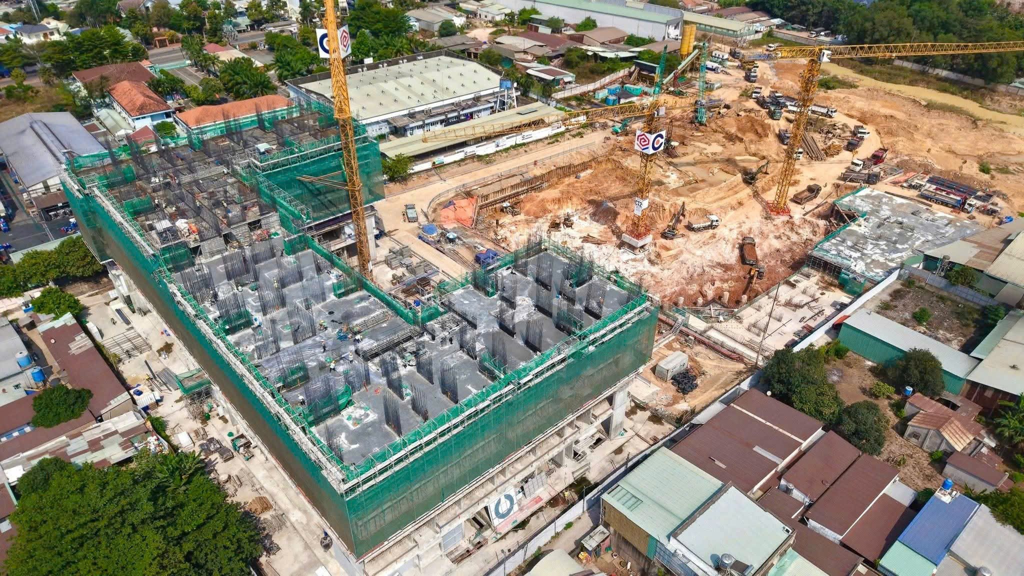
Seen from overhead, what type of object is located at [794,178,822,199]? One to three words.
truck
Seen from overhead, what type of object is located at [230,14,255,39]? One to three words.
building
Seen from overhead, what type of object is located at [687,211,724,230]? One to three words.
vehicle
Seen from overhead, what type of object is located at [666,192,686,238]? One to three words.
work vehicle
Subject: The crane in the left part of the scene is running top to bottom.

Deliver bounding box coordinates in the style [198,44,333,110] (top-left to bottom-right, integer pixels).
[303,0,377,277]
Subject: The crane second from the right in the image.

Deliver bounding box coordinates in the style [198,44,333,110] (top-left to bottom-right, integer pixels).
[421,97,728,251]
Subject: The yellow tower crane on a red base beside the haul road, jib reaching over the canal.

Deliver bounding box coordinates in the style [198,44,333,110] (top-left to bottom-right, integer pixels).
[747,35,1024,217]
